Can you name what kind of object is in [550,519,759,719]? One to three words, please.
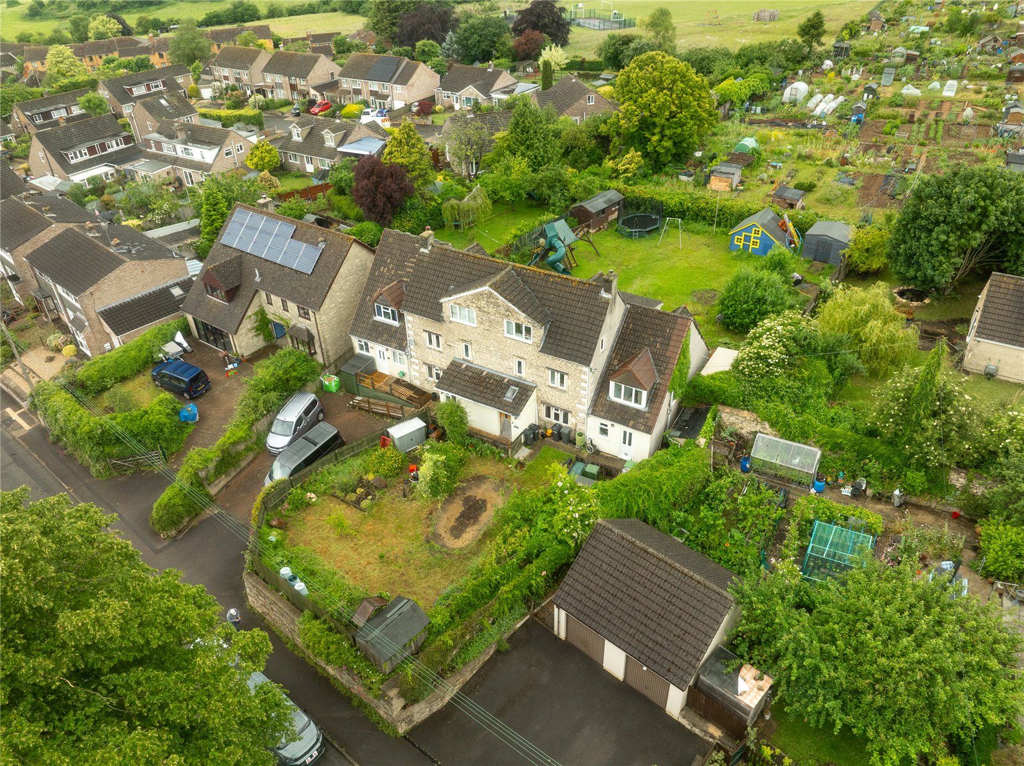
building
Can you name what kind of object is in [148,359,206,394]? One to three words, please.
car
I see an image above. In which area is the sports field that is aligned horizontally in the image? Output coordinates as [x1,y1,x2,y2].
[538,0,918,61]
